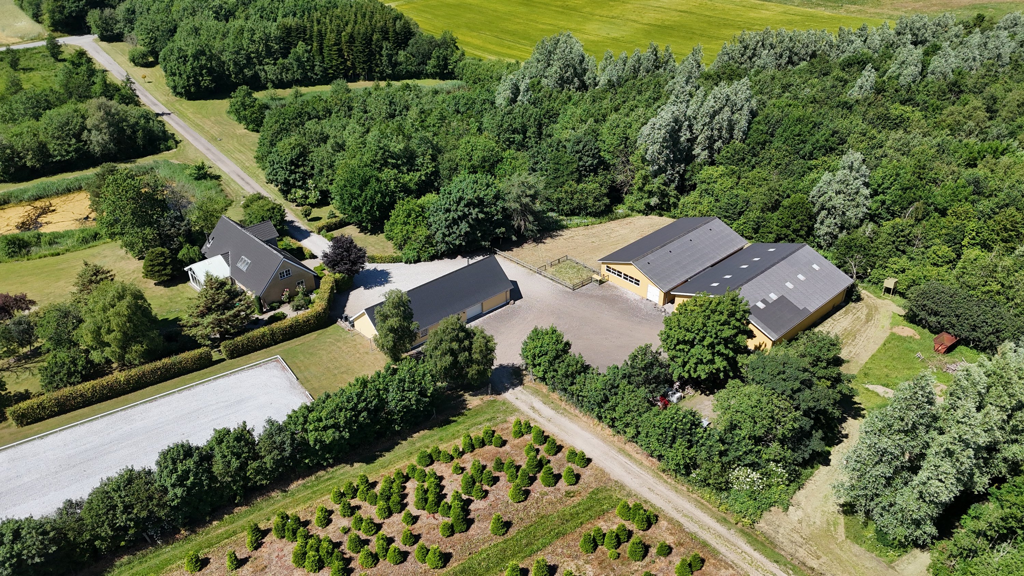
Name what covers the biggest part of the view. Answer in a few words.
trees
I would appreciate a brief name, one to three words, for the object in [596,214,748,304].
barn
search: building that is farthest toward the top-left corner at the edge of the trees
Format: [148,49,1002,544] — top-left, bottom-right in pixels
[184,218,318,314]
